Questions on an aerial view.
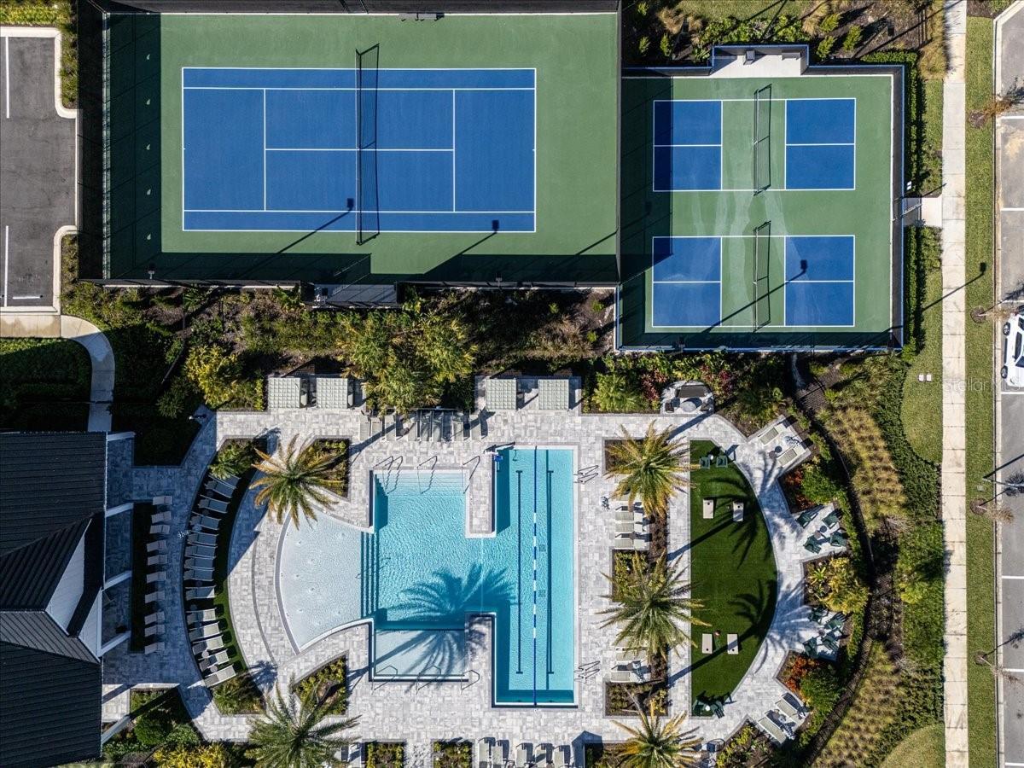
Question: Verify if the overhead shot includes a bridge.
No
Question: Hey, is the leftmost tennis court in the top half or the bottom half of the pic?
top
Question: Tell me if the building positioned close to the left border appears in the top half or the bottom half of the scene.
bottom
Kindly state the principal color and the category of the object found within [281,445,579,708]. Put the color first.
blue swimming pool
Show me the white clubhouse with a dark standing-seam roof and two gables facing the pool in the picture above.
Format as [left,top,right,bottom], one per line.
[0,431,135,768]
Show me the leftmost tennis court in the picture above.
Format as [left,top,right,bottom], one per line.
[102,12,617,309]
